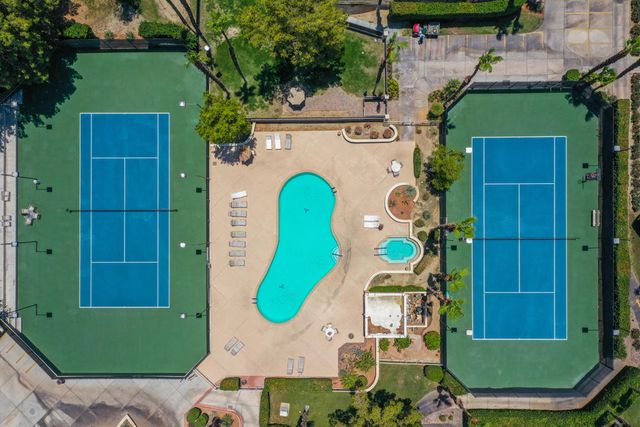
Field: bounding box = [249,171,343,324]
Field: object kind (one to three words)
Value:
swimming pool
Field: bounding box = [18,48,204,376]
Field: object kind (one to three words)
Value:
tennis court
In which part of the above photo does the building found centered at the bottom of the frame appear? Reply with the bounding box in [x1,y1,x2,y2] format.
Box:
[362,288,408,339]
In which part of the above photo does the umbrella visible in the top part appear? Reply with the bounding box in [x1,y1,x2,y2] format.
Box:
[289,88,306,105]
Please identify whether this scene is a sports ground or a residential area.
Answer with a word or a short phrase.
sports ground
